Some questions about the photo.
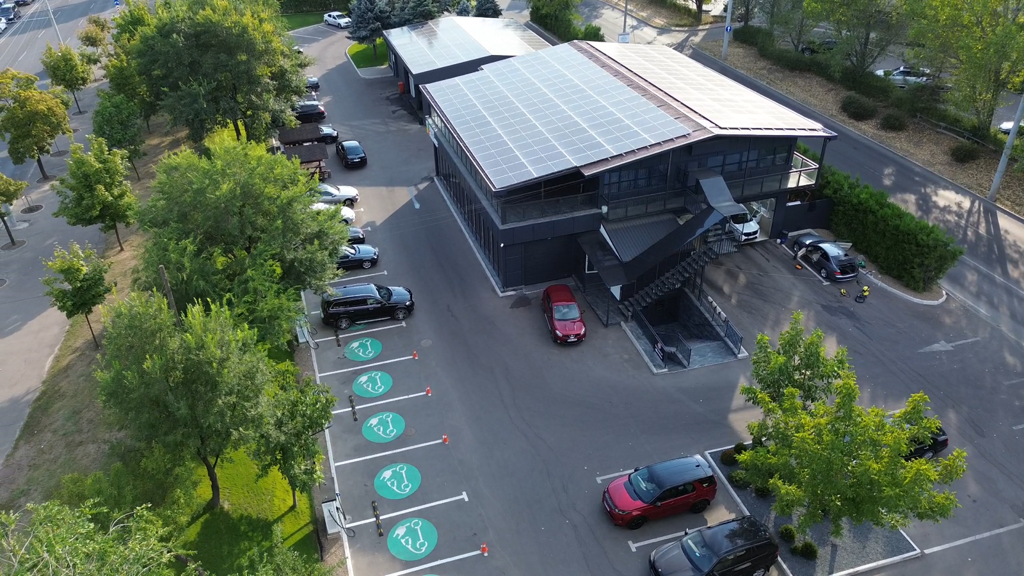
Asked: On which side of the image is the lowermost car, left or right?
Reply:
right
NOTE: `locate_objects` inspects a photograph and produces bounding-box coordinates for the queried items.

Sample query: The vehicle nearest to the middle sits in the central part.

[540,284,588,344]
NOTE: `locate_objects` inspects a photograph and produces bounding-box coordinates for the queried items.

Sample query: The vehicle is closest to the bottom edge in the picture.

[640,516,780,576]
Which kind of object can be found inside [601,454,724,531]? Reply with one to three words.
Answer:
car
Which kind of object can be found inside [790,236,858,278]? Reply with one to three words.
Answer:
car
